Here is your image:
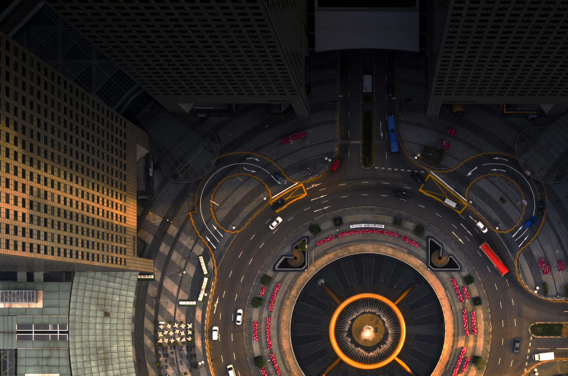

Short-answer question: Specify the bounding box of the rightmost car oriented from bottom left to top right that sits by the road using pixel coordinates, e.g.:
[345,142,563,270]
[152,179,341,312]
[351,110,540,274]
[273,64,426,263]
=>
[522,216,537,230]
